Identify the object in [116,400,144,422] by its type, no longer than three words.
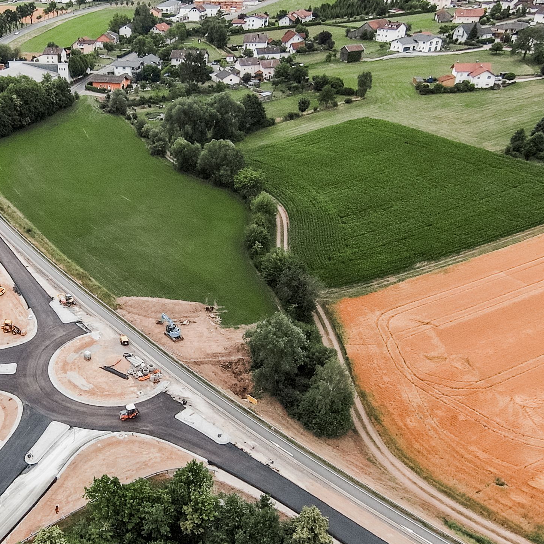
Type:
work vehicle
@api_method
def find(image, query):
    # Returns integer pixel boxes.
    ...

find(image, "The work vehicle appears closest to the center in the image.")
[154,305,186,345]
